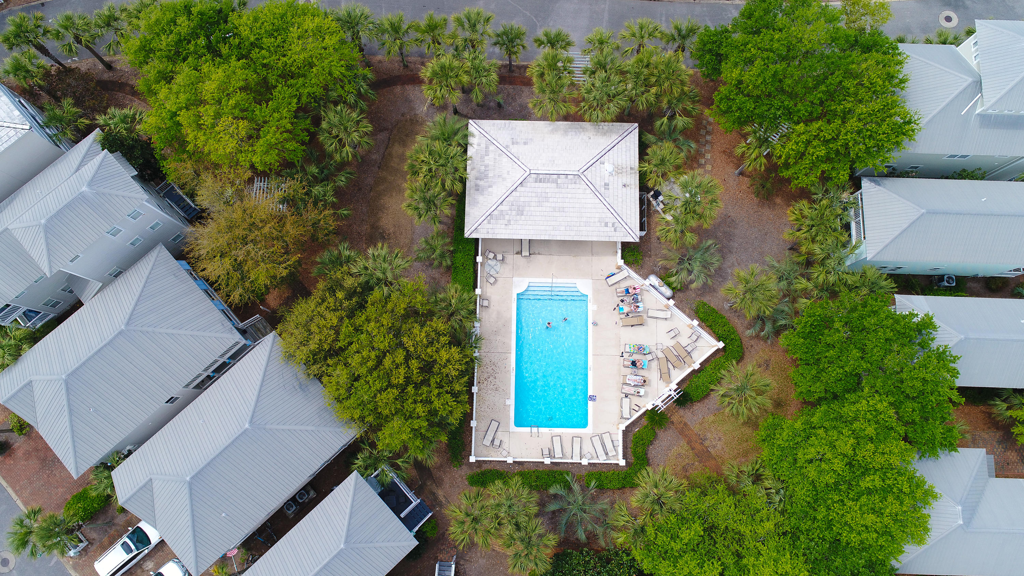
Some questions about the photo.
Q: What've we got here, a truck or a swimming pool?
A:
swimming pool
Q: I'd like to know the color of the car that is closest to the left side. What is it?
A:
white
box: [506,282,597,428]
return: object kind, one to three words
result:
swimming pool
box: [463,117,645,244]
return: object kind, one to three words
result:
building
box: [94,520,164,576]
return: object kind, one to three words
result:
car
